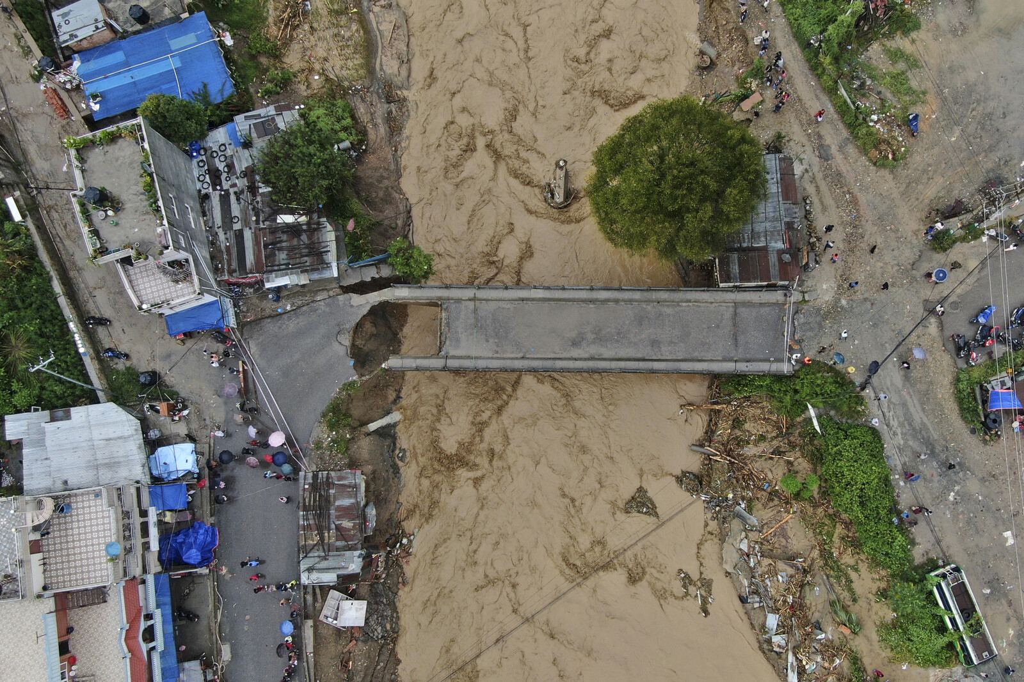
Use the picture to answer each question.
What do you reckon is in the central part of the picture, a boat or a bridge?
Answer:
bridge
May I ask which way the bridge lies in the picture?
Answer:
from left to right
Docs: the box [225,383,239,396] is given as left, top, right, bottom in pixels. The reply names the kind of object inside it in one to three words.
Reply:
umbrella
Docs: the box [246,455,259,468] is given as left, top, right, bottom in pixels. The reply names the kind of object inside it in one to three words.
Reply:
umbrella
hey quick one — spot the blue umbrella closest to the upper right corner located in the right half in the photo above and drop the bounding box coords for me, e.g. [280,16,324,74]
[932,268,947,282]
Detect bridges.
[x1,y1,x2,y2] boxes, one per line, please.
[354,285,802,378]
